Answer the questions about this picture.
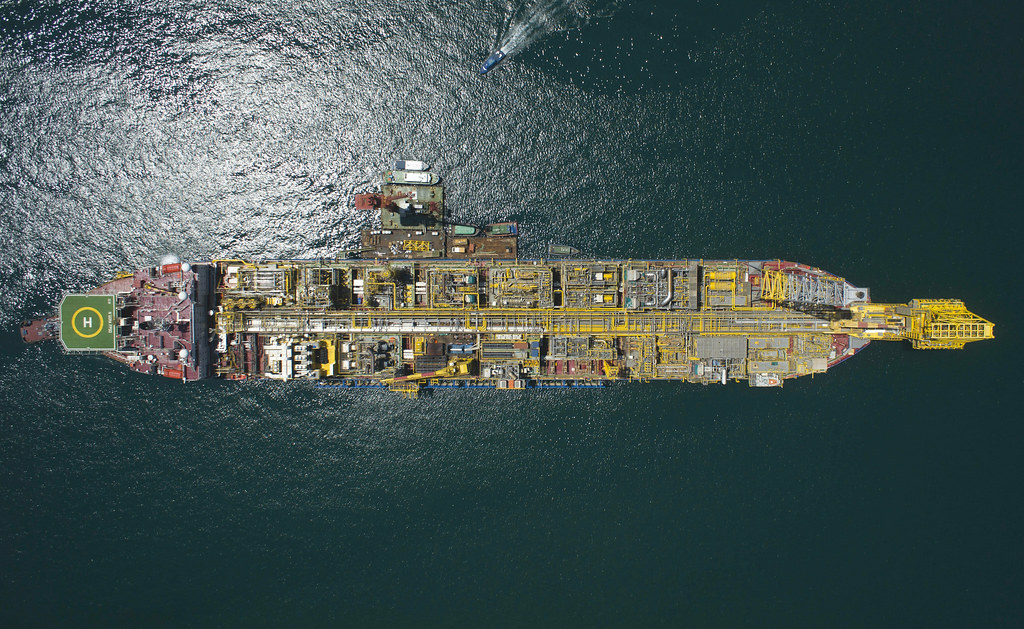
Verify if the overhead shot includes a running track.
No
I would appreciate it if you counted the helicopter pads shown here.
1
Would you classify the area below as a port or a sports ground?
port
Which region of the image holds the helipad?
left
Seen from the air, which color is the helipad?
green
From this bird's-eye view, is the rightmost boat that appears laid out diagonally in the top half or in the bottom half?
top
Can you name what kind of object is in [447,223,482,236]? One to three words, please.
boat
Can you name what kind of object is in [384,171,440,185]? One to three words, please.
boat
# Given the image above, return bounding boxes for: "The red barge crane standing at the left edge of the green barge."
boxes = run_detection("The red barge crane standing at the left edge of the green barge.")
[355,193,419,213]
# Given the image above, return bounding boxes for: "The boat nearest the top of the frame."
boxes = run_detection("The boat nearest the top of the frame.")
[480,48,506,74]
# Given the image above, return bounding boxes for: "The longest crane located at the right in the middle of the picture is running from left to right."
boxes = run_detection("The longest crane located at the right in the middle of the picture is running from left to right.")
[826,316,912,330]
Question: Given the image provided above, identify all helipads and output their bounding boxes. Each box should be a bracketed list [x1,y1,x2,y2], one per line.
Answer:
[56,291,120,353]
